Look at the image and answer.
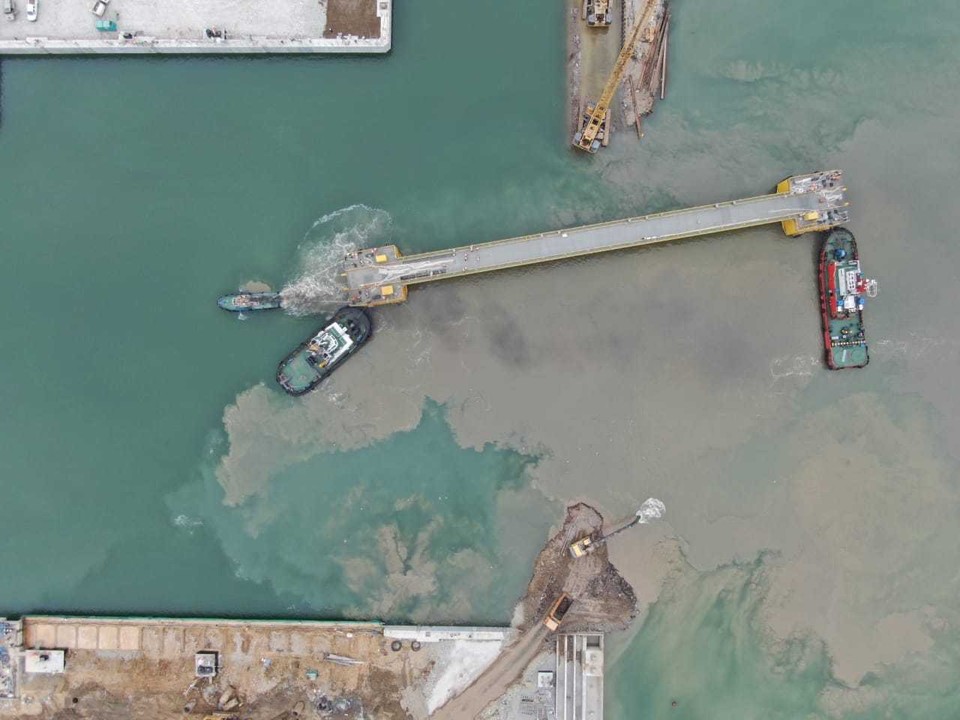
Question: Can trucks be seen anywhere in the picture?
Yes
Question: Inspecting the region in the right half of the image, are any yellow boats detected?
No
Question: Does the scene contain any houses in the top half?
No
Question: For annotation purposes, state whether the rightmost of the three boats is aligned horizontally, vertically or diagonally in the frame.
vertically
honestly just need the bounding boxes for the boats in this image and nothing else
[817,226,877,370]
[276,304,377,398]
[217,291,283,311]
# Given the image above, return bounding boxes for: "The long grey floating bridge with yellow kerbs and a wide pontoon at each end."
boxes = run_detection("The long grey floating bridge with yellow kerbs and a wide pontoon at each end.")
[340,170,851,308]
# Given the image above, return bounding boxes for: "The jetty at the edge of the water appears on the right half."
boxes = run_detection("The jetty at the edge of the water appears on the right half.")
[773,170,851,236]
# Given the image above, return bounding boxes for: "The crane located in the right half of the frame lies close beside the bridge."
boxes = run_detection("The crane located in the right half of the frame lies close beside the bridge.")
[575,0,661,150]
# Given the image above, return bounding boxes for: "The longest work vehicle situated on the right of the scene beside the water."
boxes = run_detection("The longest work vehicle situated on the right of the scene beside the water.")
[566,511,647,562]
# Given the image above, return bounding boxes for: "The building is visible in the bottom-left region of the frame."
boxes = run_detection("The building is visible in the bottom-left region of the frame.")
[22,644,68,672]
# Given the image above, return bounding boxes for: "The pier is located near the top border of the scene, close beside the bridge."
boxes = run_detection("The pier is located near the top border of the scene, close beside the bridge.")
[0,0,391,54]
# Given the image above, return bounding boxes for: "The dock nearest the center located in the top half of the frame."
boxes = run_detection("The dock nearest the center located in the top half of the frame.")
[340,247,409,308]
